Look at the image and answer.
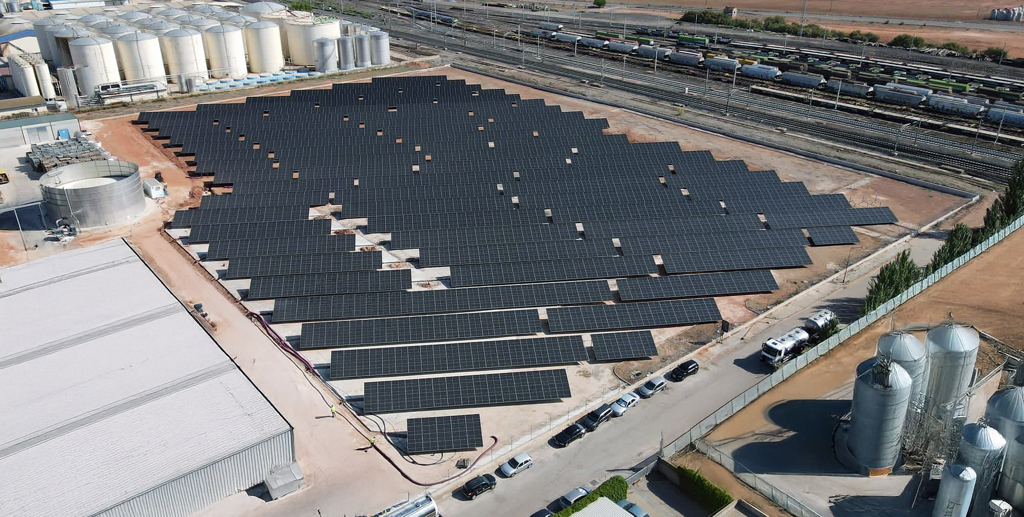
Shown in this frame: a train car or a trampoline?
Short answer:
train car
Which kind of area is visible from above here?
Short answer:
industrial area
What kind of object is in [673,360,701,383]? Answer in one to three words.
car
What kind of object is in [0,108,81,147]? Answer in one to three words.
building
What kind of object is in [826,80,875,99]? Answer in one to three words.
rail car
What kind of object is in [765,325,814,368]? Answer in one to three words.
truck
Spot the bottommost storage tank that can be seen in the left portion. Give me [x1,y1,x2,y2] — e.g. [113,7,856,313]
[34,167,149,231]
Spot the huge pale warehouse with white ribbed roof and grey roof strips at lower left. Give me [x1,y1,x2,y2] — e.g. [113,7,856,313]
[0,237,297,517]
